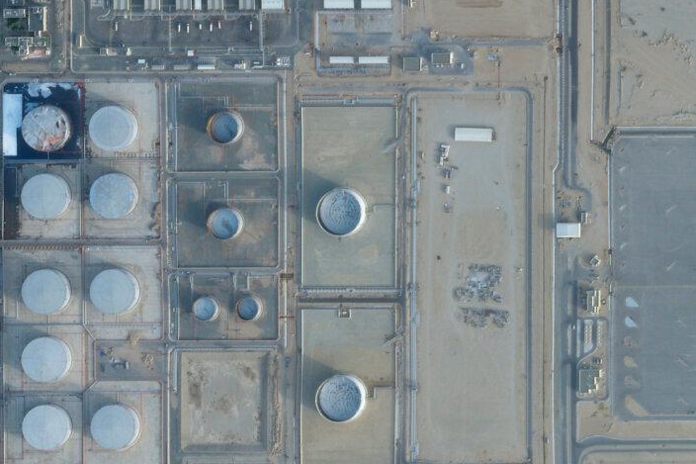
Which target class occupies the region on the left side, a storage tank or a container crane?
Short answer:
storage tank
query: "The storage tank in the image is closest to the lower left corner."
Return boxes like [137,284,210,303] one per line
[21,404,73,454]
